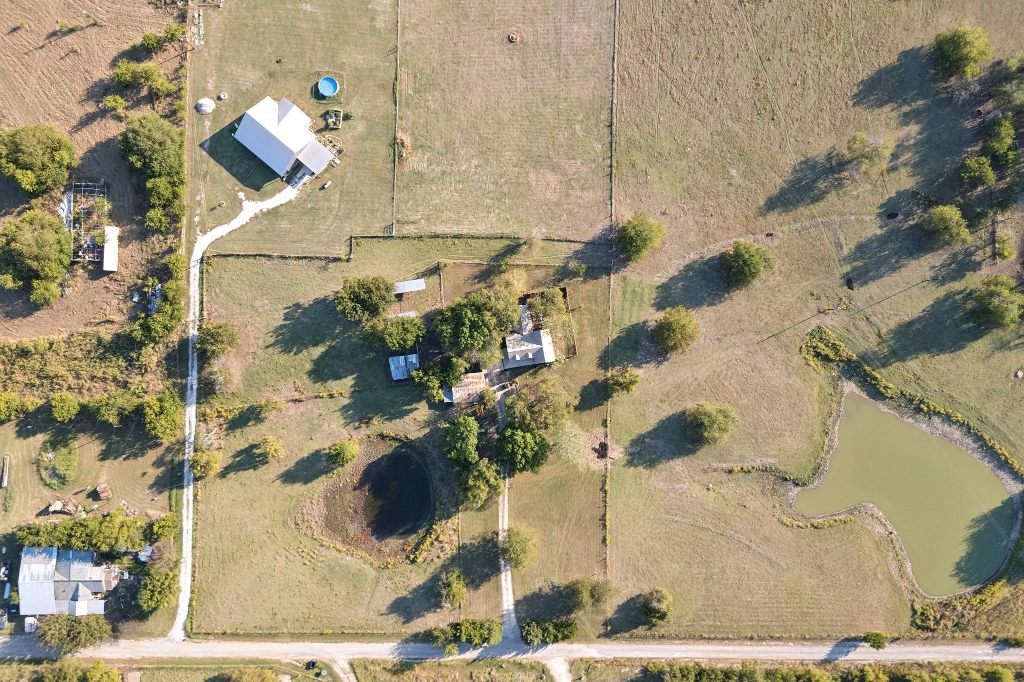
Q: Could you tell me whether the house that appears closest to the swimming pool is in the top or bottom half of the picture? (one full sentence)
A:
It is in the top half that the house that appears closest to the swimming pool appears.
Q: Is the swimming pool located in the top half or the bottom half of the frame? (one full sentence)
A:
The swimming pool is in the top half of the image.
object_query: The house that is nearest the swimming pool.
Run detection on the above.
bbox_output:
[234,96,336,179]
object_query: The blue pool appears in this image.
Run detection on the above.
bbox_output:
[317,76,339,99]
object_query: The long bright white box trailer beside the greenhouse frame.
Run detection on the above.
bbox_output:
[104,226,123,272]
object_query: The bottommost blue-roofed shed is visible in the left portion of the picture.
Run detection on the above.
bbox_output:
[389,354,420,380]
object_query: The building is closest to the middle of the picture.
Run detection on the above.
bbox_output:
[482,304,555,373]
